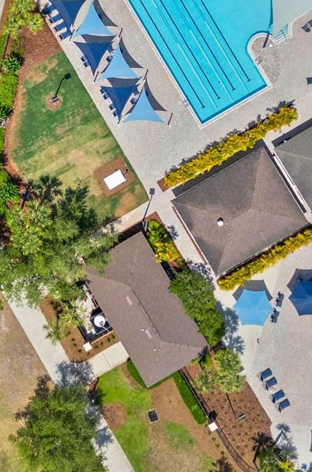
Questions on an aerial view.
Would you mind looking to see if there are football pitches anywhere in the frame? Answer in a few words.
No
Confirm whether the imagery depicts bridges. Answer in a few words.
No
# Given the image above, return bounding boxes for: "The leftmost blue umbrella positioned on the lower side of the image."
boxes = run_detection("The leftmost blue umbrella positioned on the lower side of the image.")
[232,289,272,325]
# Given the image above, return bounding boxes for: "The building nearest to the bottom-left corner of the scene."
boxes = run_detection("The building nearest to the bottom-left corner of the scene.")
[86,231,210,389]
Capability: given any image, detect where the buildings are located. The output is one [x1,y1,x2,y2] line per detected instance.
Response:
[274,127,312,213]
[171,147,310,278]
[86,231,210,389]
